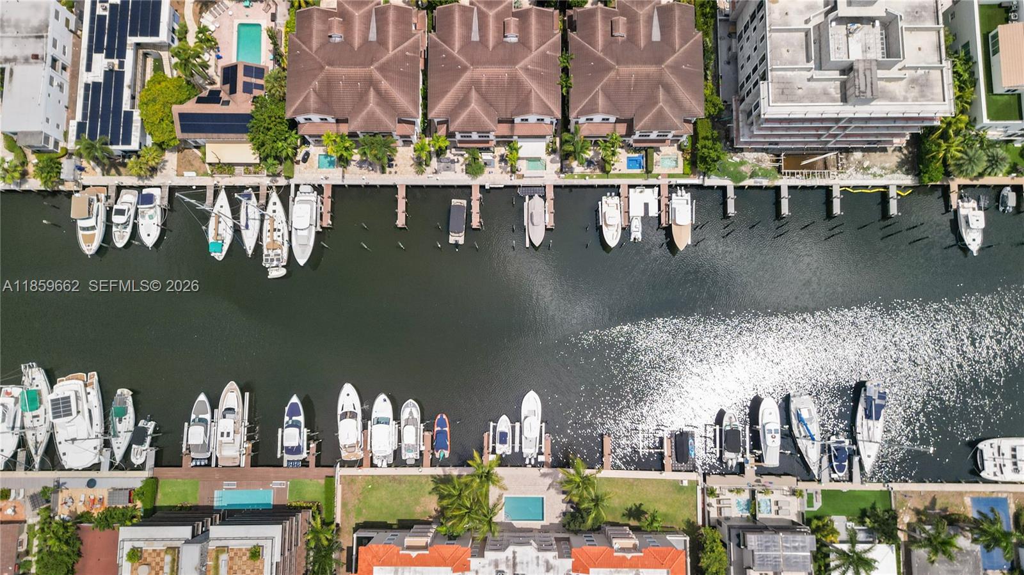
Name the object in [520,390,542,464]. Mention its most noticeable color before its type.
white boat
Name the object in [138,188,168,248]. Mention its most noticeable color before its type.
white boat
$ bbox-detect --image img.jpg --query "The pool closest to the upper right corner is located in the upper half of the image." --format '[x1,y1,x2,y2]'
[659,153,679,169]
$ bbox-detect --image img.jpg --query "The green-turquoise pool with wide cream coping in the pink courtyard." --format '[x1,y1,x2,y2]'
[233,19,265,65]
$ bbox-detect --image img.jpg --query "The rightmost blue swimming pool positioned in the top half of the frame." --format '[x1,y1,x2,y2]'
[625,153,645,170]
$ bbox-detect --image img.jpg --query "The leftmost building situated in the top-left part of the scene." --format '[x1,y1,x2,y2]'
[0,0,79,157]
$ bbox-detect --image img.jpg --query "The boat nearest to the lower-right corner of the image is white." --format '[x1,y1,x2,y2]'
[968,437,1024,482]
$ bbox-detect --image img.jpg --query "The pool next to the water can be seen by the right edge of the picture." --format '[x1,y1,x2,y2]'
[966,492,1015,575]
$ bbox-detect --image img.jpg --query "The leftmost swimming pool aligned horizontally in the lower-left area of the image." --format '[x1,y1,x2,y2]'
[213,489,274,510]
